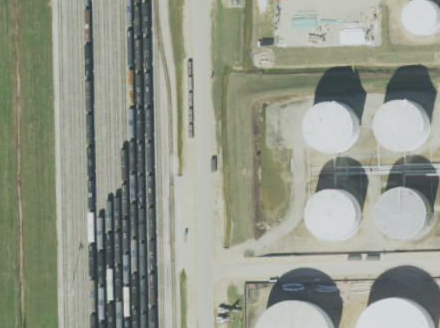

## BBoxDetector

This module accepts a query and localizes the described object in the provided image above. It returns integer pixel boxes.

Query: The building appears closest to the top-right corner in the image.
[340,29,365,44]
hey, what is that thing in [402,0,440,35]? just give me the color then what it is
white storage tank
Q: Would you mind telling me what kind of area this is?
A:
industrial area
